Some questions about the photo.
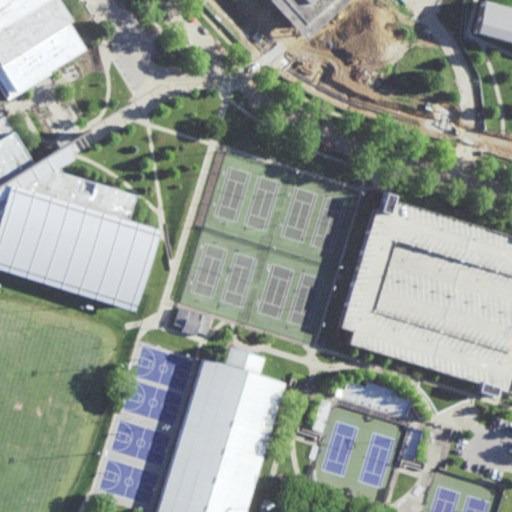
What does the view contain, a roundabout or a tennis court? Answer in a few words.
tennis court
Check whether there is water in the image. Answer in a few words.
No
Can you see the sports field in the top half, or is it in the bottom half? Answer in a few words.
bottom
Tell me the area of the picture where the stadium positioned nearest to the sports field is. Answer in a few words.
left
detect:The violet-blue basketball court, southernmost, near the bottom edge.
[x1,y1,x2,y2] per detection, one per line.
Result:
[100,460,160,504]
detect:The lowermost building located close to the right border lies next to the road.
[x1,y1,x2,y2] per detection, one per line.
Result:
[338,192,512,400]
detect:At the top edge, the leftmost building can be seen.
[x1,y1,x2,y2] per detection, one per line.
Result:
[0,0,88,102]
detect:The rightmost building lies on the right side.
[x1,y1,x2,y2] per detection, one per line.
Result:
[473,0,512,46]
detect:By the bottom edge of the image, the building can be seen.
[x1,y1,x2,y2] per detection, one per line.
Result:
[155,360,287,512]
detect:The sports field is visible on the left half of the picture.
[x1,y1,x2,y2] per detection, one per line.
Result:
[0,291,115,512]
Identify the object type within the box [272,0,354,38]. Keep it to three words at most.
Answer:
building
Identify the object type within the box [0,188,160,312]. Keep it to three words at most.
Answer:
stadium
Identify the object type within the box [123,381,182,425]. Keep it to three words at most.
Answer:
basketball court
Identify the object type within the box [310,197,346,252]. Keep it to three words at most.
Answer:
tennis court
